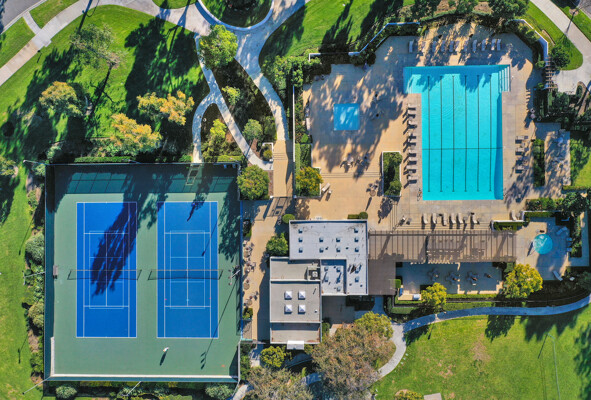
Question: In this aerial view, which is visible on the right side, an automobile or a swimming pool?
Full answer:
The one visible on the right side is a swimming pool.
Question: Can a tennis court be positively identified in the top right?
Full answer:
No, I see no tennis court in the top right.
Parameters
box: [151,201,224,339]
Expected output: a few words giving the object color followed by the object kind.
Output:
blue tennis court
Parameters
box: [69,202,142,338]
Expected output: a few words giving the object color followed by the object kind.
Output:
blue tennis court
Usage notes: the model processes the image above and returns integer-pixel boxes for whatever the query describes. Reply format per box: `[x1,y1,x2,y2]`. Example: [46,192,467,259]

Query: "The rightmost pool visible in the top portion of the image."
[403,63,513,201]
